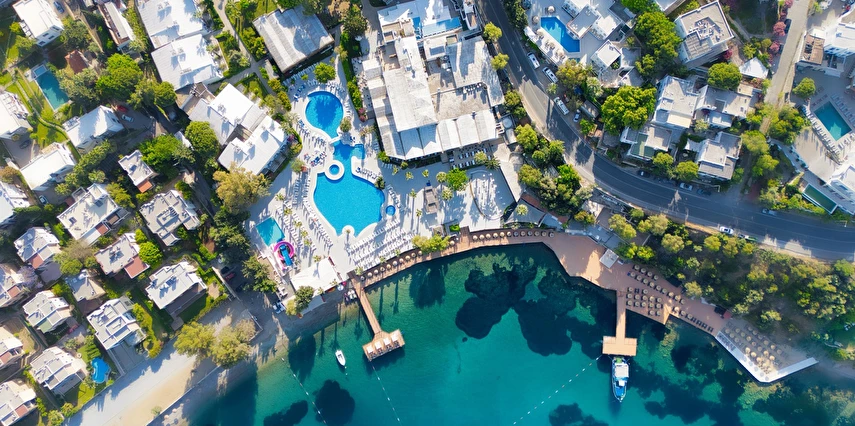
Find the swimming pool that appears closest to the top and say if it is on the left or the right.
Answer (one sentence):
It is on the right.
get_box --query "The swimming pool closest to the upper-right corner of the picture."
[808,94,855,147]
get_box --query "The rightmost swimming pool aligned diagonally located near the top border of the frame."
[536,12,584,57]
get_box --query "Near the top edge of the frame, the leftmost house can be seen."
[12,0,70,43]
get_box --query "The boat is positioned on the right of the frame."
[611,356,628,404]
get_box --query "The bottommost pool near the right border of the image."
[797,179,841,216]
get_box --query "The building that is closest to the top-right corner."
[795,3,855,70]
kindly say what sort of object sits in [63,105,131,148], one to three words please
house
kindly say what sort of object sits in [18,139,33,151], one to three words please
vehicle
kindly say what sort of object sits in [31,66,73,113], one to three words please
swimming pool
